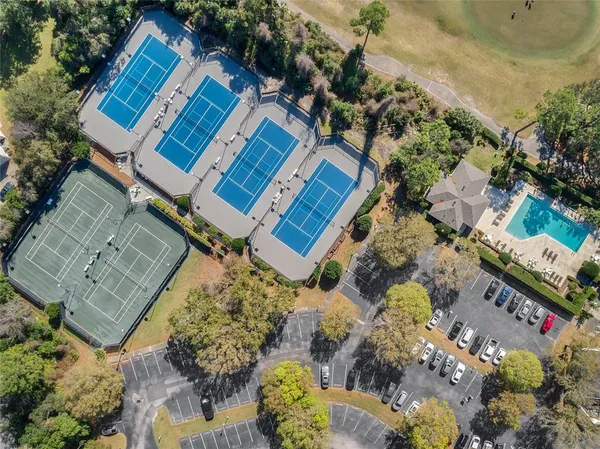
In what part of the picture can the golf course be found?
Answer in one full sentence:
Look in the top right portion of the view to spot the golf course.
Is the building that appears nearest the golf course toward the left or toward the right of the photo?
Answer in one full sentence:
The building that appears nearest the golf course appears in the right half of the scene.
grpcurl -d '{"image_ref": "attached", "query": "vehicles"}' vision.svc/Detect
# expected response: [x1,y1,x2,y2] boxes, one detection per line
[468,433,481,449]
[382,383,396,403]
[0,181,12,199]
[484,280,499,298]
[480,338,499,361]
[346,369,355,388]
[427,309,442,328]
[448,321,463,339]
[451,362,465,381]
[469,335,485,353]
[404,399,418,417]
[321,366,329,385]
[490,348,506,366]
[482,437,494,449]
[415,336,424,347]
[430,349,444,368]
[496,287,511,305]
[540,314,555,332]
[420,343,434,362]
[458,328,474,346]
[441,355,455,374]
[393,391,407,410]
[506,293,521,312]
[517,300,533,318]
[529,305,546,324]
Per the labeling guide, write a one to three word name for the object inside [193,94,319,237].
tennis court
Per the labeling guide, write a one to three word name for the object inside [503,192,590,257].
swimming pool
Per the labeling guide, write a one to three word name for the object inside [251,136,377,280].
tennis court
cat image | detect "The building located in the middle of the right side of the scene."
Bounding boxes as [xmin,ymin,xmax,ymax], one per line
[422,161,490,233]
